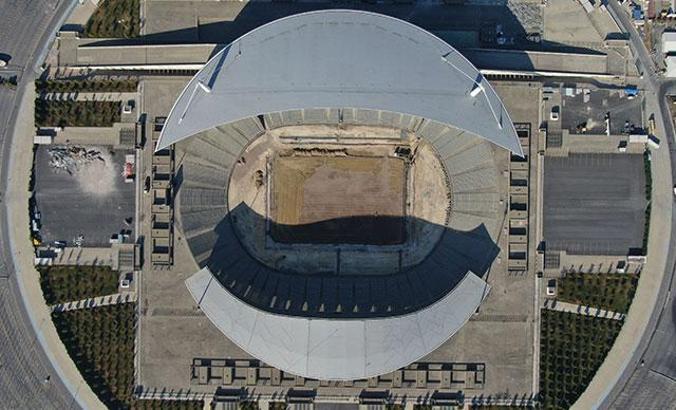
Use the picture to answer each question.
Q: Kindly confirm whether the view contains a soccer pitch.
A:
Yes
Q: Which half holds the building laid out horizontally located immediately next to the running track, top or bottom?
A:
bottom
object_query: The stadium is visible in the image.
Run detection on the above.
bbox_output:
[154,9,524,381]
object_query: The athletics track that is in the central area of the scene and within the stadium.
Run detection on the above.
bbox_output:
[229,127,450,276]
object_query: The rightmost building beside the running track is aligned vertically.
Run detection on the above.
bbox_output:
[508,121,530,272]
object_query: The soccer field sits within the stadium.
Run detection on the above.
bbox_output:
[267,152,411,252]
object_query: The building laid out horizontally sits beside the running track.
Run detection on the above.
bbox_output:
[191,359,489,387]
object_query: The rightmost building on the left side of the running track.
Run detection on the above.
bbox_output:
[151,116,170,266]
